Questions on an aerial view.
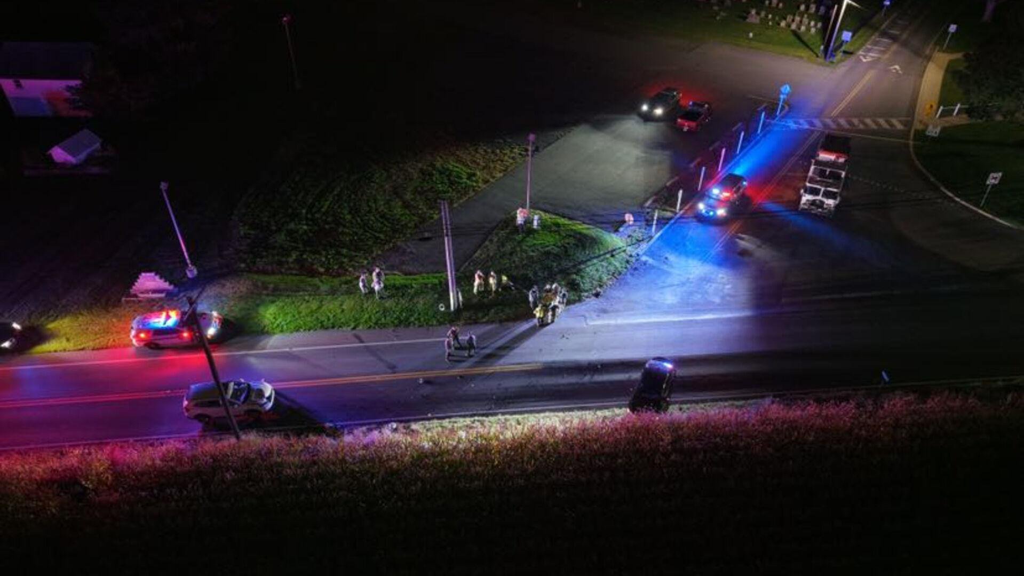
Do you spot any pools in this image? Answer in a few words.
No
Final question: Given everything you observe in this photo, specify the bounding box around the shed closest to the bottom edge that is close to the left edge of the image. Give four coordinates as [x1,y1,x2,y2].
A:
[46,130,107,169]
